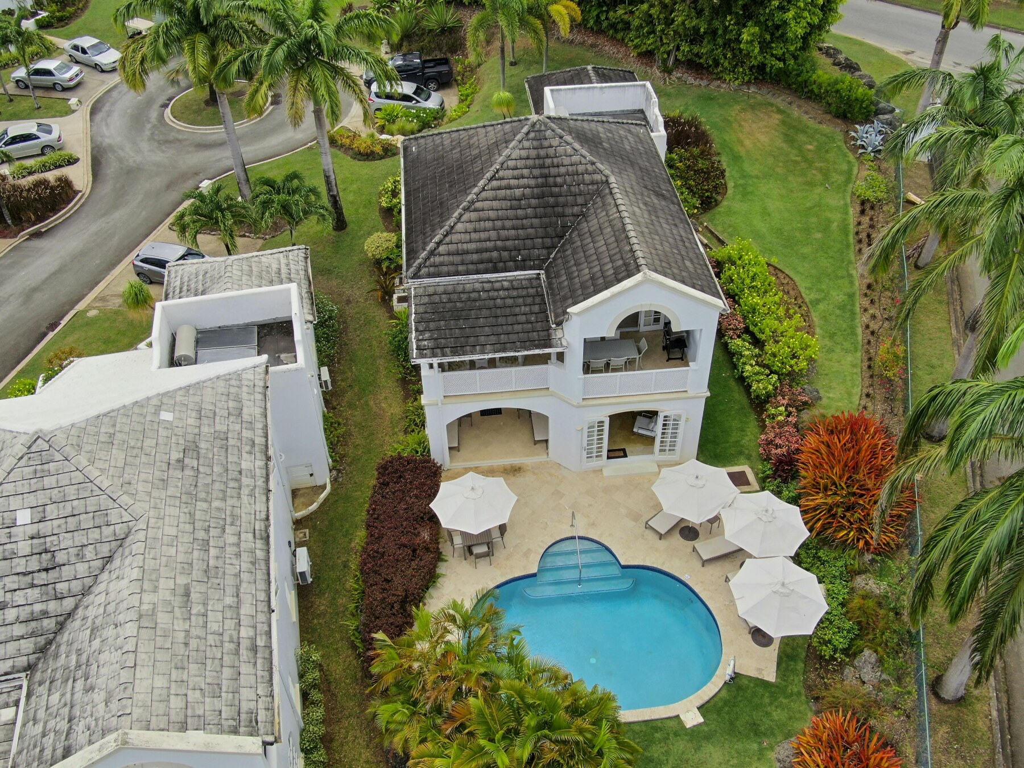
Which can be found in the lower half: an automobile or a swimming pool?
swimming pool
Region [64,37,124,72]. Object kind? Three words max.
car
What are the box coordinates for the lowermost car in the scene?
[128,240,207,286]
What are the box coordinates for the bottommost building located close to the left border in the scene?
[0,243,341,768]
